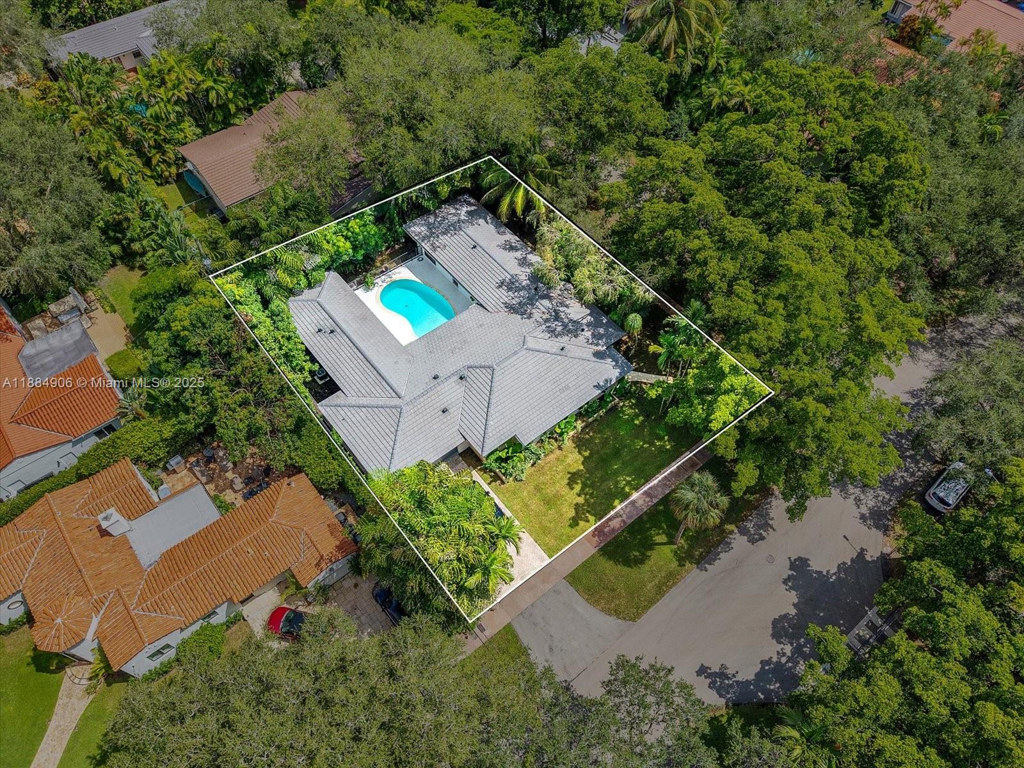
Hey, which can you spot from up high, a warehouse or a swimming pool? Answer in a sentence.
The one in the frame is a swimming pool.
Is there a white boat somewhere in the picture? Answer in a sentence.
No, there appears to be no white boat in this shot.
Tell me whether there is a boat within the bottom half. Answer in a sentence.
No, the scene shows no boat within the bottom half.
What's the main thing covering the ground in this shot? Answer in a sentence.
The scene is dominated by trees.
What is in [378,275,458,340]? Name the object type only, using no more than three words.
swimming pool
